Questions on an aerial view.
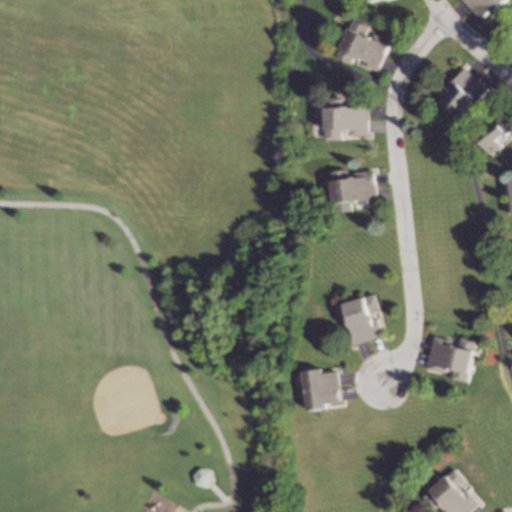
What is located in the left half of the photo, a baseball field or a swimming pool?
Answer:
baseball field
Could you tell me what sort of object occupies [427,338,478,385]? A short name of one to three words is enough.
house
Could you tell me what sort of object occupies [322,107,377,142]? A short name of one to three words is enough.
house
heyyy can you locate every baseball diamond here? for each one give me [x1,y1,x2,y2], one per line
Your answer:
[94,366,166,436]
